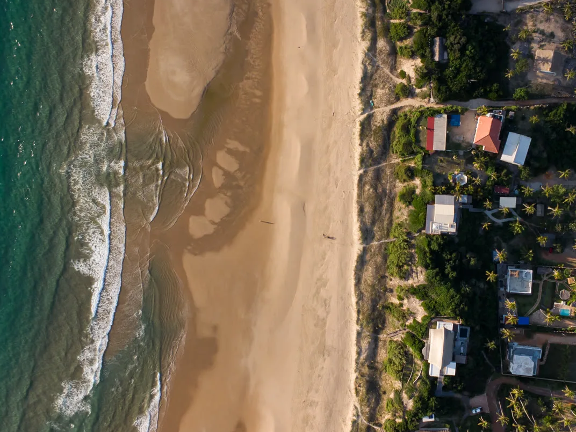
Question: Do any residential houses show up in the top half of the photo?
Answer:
Yes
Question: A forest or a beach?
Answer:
beach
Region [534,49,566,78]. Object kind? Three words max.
house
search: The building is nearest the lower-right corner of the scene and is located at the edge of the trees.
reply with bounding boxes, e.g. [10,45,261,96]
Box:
[507,340,542,376]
